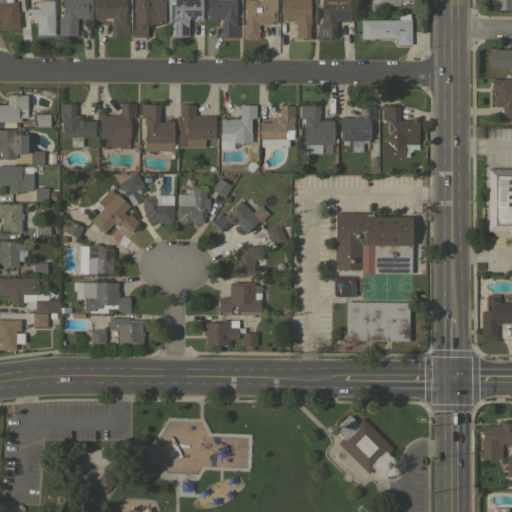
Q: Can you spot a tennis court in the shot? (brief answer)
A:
No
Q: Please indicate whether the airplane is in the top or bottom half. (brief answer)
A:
bottom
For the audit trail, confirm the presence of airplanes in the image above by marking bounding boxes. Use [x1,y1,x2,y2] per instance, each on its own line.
[170,438,191,462]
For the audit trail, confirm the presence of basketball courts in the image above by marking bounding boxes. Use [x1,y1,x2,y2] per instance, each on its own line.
[362,274,412,300]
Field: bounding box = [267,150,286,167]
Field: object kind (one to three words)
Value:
swimming pool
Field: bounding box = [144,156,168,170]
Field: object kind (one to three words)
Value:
swimming pool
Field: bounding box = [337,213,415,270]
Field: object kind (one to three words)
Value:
building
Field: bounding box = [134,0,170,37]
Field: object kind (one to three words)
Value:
house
